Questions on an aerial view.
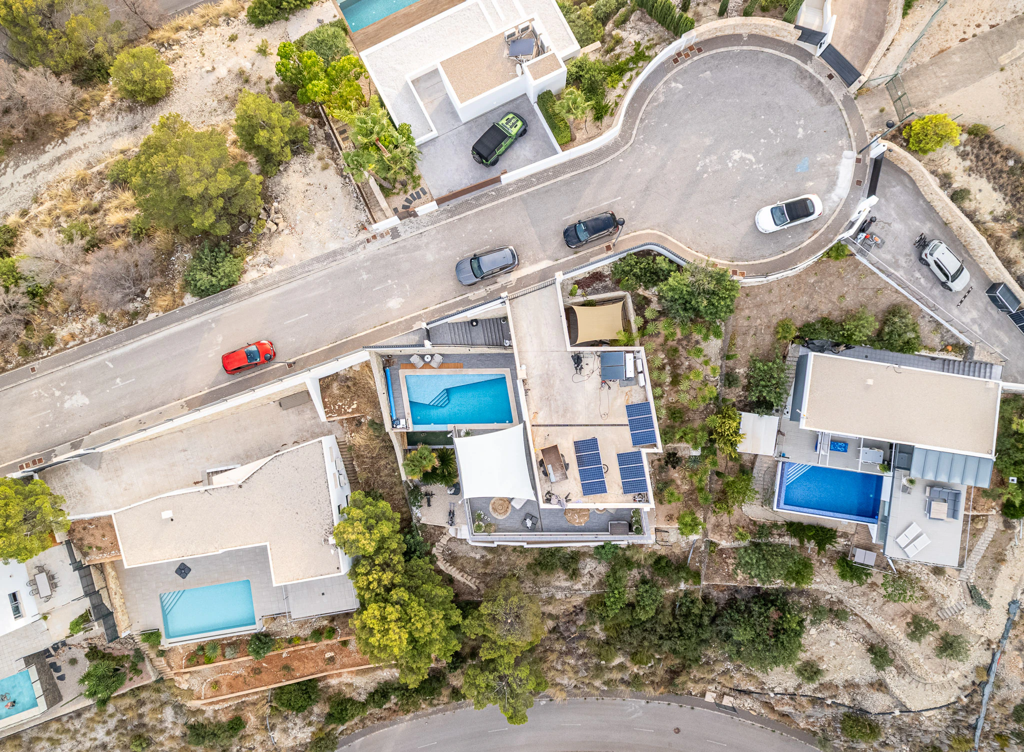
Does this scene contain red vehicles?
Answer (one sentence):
Yes, the picture does show a red vehicle.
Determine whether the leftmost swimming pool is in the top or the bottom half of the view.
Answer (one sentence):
The leftmost swimming pool sits in the bottom half of the picture.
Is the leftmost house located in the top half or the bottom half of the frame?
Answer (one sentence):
The leftmost house is in the bottom half of the image.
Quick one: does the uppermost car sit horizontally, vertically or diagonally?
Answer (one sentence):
In this picture, the uppermost car is oriented diagonally.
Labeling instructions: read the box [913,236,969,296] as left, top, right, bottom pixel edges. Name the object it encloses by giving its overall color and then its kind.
white car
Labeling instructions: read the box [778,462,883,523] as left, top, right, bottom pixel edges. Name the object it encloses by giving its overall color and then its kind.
blue swimming pool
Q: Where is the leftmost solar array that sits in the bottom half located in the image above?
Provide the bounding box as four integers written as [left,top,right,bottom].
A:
[573,437,607,496]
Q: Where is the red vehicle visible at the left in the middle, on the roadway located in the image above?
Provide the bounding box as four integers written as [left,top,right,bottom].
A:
[219,339,280,377]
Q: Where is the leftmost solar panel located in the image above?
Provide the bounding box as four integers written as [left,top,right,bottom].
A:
[509,38,534,63]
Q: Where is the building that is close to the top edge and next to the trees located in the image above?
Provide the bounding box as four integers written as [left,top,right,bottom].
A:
[360,0,580,152]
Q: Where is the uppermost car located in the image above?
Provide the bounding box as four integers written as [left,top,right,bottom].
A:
[470,108,529,170]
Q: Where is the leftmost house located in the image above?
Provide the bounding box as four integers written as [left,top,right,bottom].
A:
[0,559,38,632]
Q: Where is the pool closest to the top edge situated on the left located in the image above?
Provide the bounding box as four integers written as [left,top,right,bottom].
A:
[340,0,416,31]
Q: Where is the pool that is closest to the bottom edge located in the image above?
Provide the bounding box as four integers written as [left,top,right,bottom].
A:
[0,664,44,719]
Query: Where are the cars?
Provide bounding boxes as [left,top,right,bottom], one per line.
[455,243,521,286]
[219,339,280,377]
[470,108,529,170]
[561,209,622,249]
[753,194,823,236]
[913,236,969,296]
